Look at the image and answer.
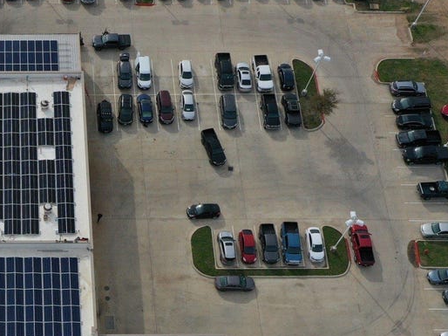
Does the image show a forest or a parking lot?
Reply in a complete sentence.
The area seen from above is a parking lot.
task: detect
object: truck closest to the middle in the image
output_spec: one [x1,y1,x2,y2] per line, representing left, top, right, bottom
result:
[198,126,226,169]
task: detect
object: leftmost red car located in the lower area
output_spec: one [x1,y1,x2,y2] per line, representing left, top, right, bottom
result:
[238,230,258,262]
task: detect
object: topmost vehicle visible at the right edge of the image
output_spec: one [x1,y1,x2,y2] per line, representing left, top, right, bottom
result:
[389,80,427,98]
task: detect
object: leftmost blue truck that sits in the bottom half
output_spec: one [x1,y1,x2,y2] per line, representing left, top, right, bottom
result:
[279,221,304,266]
